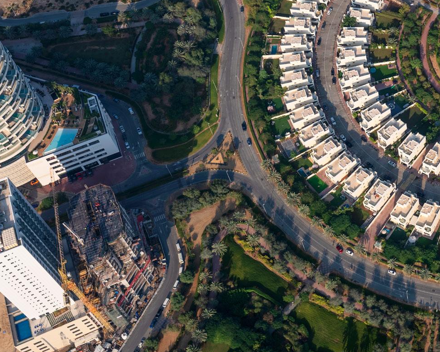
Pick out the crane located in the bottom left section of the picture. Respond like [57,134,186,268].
[50,182,116,336]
